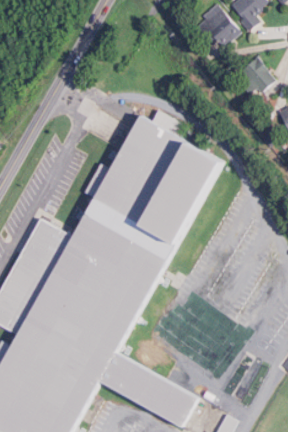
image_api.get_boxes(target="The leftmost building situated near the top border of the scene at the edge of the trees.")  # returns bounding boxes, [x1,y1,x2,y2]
[202,3,242,48]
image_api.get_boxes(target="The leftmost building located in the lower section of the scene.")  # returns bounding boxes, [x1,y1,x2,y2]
[0,108,227,432]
